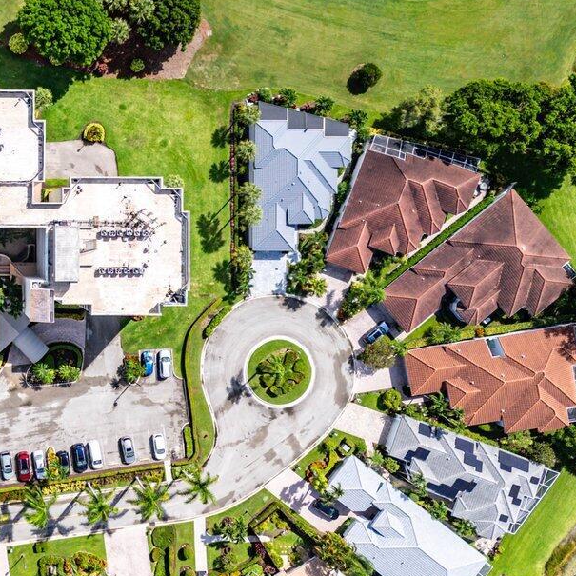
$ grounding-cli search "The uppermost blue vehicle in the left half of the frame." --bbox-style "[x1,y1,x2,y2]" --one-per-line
[140,350,154,378]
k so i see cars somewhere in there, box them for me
[70,442,87,474]
[309,496,340,521]
[55,444,70,476]
[32,450,46,480]
[17,451,31,482]
[363,319,393,344]
[157,349,171,378]
[119,436,133,464]
[151,432,165,461]
[140,350,154,378]
[0,451,12,480]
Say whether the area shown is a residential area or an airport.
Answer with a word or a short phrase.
residential area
